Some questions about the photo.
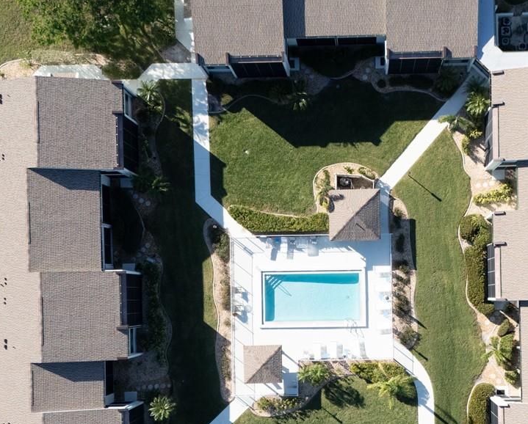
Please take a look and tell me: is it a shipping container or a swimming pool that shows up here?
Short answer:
swimming pool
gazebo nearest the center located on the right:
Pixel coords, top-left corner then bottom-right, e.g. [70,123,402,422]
[328,189,381,242]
